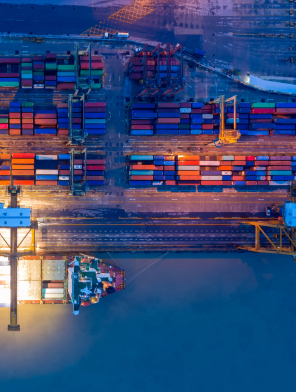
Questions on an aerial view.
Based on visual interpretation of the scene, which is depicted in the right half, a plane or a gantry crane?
gantry crane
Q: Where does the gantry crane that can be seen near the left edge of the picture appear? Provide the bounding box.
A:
[0,185,40,333]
